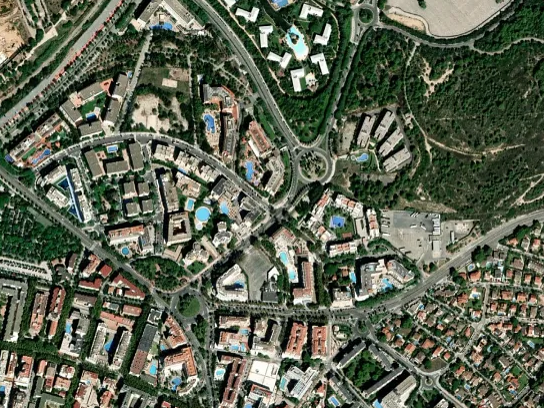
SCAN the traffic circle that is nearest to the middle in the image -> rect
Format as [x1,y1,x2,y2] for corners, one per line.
[293,145,336,187]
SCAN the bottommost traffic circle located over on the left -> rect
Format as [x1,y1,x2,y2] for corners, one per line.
[171,285,208,321]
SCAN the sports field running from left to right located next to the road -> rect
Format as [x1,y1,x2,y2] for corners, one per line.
[141,69,189,86]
